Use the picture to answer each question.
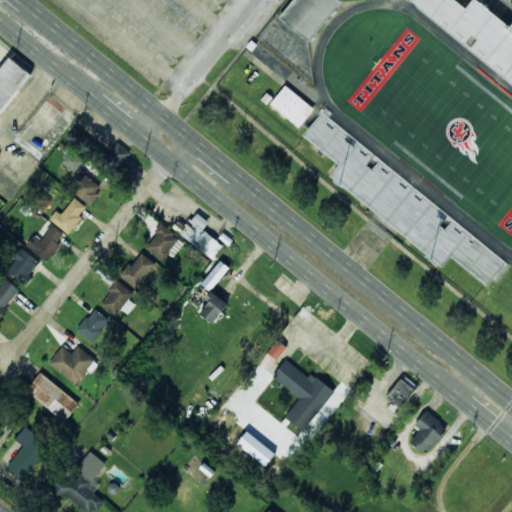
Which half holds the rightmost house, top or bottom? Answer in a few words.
bottom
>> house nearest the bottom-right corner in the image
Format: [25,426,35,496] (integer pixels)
[411,410,448,454]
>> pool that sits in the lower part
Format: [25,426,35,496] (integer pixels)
[109,466,130,486]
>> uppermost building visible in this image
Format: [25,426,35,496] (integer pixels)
[280,0,341,40]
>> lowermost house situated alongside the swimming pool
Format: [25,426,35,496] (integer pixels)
[54,452,108,512]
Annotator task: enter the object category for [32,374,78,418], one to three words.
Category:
house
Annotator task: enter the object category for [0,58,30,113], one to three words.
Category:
building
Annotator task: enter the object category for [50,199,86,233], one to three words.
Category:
house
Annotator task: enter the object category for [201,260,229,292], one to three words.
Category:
barn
